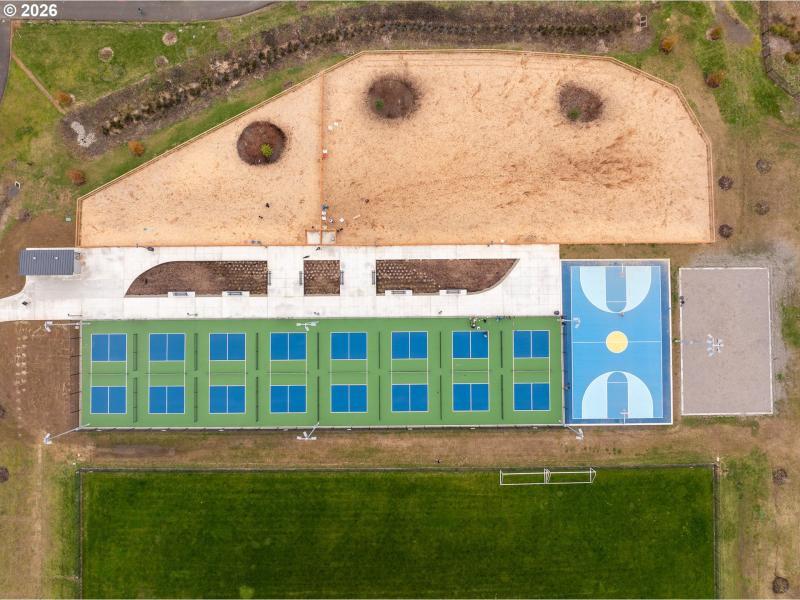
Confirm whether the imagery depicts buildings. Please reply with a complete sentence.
Yes, there is a building in the image.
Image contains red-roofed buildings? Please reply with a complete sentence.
No, the photo shows no red-roofed building.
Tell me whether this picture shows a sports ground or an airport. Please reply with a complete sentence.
What you see here is a sports ground.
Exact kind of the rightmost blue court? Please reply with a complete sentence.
It looks like the rightmost blue court is a basketball court.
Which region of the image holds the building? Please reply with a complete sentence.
The building appears toward the left of the photo.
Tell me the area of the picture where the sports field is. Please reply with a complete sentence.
Look in the bottom portion of the view to spot the sports field.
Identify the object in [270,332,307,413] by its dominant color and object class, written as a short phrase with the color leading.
blue sports court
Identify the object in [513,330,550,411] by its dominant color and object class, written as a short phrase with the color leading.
blue sports court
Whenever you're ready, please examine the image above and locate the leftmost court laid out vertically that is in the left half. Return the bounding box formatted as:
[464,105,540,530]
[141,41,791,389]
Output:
[91,333,127,414]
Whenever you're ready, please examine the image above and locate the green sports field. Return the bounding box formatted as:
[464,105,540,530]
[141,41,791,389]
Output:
[81,468,715,600]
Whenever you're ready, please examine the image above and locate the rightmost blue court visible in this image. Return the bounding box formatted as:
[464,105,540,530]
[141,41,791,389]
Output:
[559,259,673,425]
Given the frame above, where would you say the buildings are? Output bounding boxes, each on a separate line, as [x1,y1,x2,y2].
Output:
[20,250,83,276]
